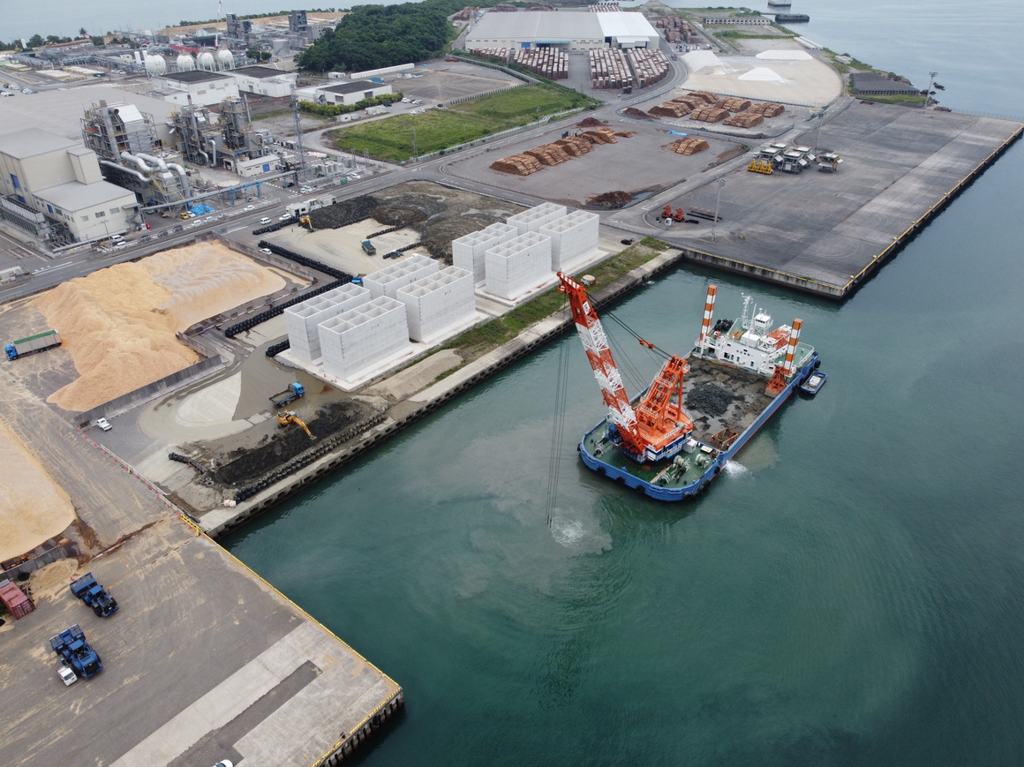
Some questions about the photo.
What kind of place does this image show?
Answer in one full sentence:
This looks like a port.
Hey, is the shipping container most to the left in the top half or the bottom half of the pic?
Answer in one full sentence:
The bottom half of the photo is where the shipping container most to the left is.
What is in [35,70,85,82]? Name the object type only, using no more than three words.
building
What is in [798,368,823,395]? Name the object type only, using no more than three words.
boat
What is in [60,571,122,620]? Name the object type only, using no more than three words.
work vehicle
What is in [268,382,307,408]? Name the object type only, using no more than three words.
truck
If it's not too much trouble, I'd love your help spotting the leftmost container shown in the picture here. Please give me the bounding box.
[0,572,38,621]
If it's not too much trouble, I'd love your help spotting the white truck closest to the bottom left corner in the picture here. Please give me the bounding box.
[57,664,79,687]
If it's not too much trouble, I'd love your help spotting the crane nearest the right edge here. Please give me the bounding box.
[546,273,695,528]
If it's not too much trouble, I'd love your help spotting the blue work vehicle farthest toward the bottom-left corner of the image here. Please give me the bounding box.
[47,622,105,681]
